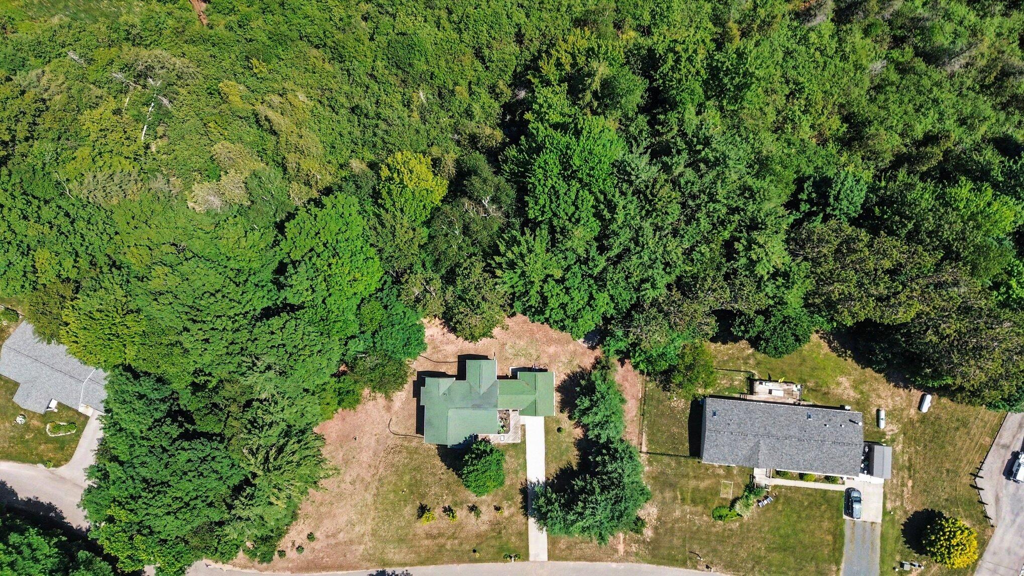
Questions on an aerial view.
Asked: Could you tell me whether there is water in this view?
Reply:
No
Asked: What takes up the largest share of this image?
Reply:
trees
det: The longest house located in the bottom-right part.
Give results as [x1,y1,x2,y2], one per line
[699,397,866,477]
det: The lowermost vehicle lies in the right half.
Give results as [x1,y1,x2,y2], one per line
[844,487,862,519]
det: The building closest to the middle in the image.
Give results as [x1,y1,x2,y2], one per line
[421,359,555,447]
